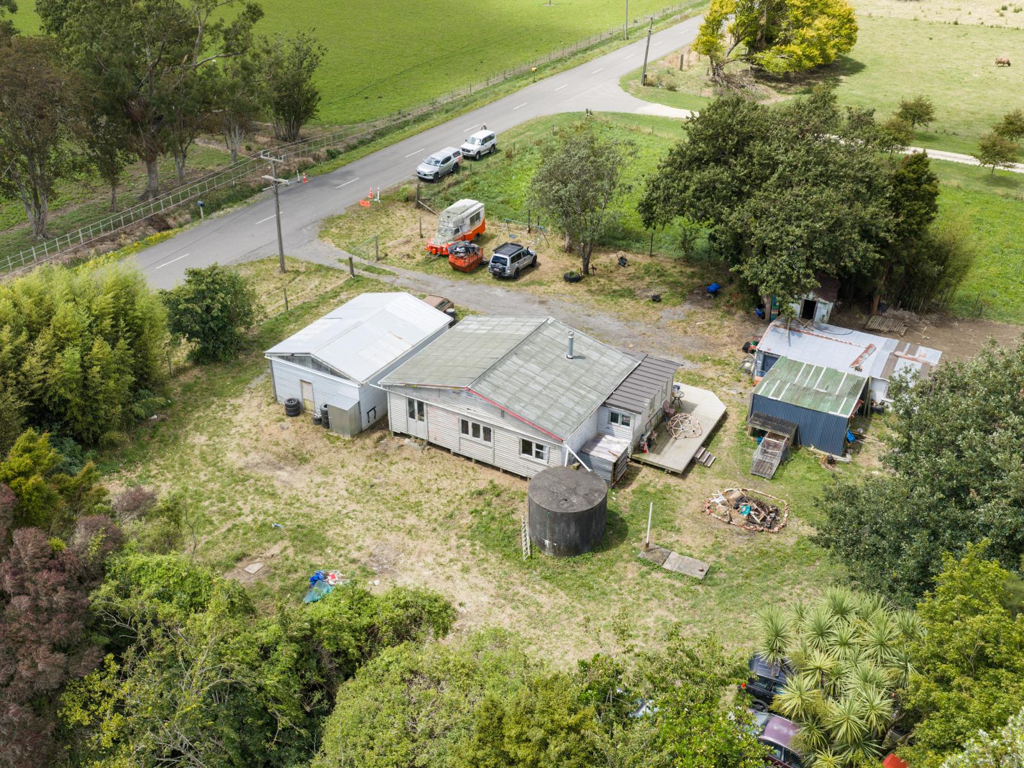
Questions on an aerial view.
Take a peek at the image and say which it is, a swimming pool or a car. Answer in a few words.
car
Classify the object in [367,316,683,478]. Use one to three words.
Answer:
house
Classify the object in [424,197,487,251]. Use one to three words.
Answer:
truck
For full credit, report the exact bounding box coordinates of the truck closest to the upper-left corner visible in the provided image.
[412,146,464,180]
